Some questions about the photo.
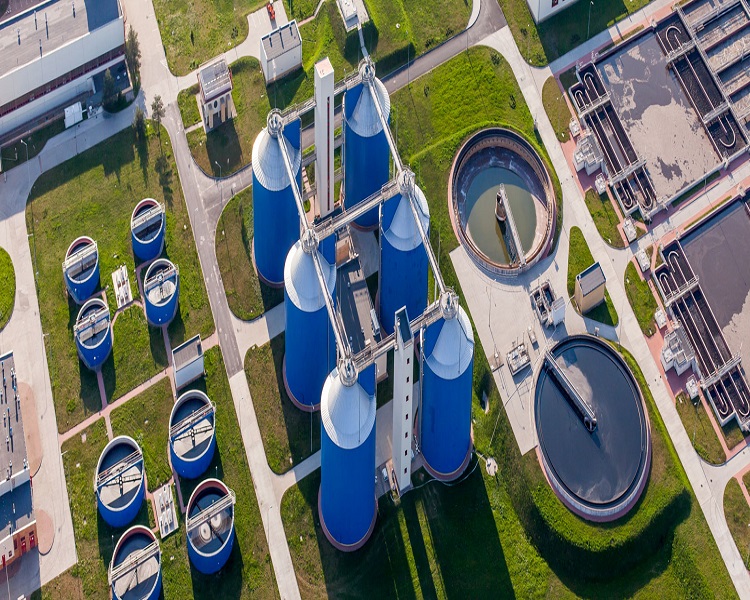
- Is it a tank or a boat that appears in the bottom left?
tank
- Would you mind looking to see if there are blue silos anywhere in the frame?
Yes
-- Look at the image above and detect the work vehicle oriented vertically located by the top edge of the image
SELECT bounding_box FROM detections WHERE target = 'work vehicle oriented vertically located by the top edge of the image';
[267,3,279,29]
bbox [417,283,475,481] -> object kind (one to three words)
silo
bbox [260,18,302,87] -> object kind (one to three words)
house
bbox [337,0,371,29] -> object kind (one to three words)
building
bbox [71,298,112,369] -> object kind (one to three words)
storage tank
